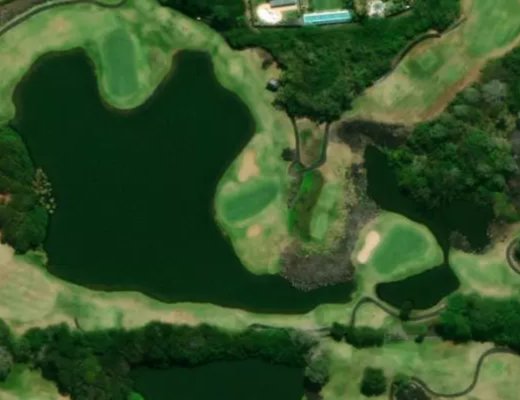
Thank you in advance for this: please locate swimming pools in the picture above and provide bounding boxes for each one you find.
[304,11,352,23]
